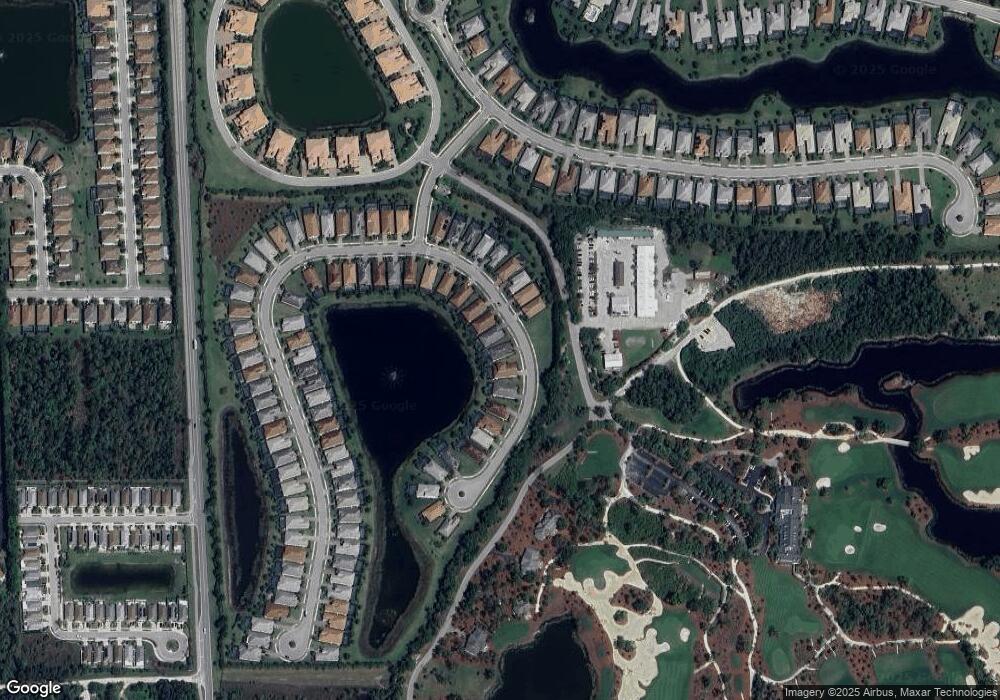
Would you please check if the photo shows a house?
Yes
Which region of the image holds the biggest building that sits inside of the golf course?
bottom right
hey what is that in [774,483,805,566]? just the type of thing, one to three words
building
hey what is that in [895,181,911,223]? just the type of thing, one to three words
house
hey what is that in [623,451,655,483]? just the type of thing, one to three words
tennis court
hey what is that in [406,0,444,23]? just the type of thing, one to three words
roundabout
